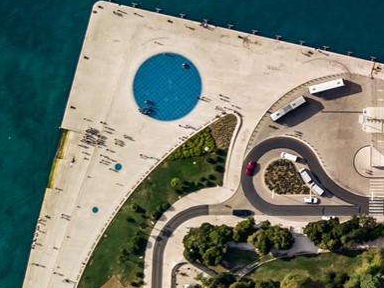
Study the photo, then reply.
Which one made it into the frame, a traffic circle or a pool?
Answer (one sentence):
The one in the frame is a traffic circle.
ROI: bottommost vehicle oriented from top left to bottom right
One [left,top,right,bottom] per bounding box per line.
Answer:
[310,182,326,197]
